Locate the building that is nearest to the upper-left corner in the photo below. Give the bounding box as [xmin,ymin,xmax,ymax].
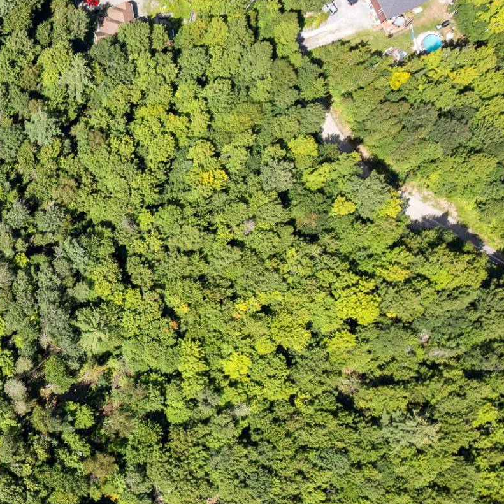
[93,2,134,42]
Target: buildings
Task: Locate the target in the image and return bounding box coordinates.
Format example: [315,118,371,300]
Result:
[365,0,426,36]
[93,2,134,42]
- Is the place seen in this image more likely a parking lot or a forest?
forest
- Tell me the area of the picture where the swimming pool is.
top right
